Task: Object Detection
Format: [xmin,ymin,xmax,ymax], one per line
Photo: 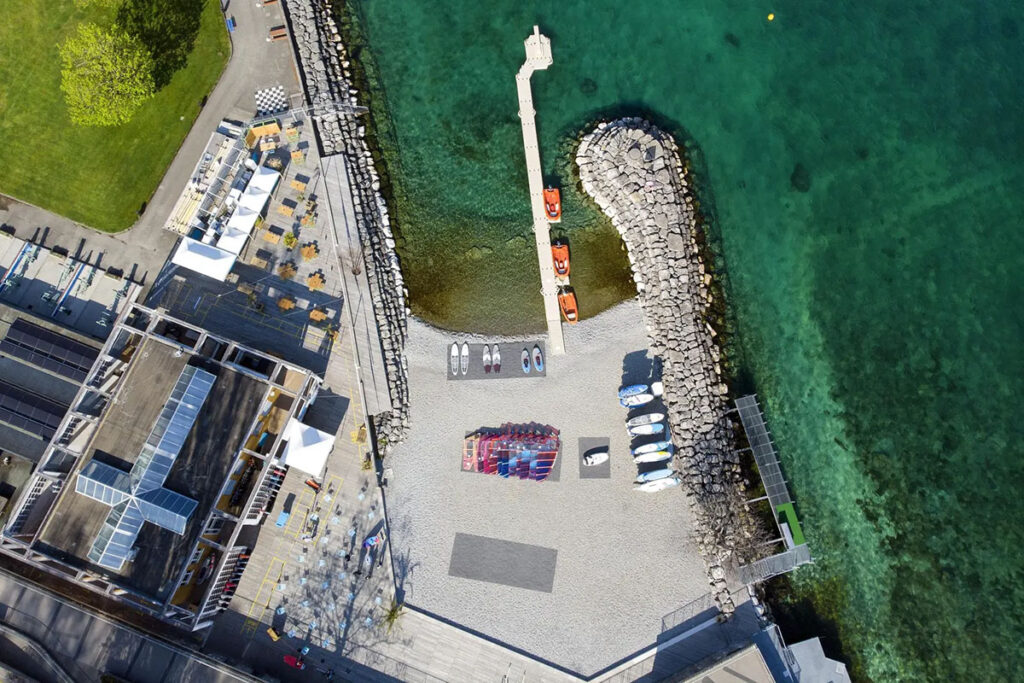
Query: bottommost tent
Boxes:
[284,420,341,478]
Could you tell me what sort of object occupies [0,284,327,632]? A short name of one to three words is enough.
building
